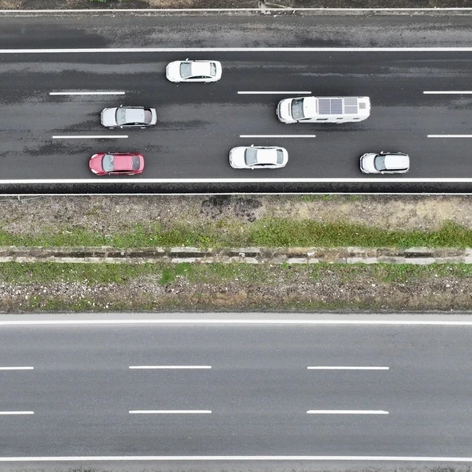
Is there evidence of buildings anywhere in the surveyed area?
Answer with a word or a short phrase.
No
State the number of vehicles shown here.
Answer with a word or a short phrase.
six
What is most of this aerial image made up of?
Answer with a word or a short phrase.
paved ground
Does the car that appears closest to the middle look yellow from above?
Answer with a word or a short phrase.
No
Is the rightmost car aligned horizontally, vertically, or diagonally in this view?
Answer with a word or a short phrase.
horizontally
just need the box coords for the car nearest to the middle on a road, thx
[227,143,289,170]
